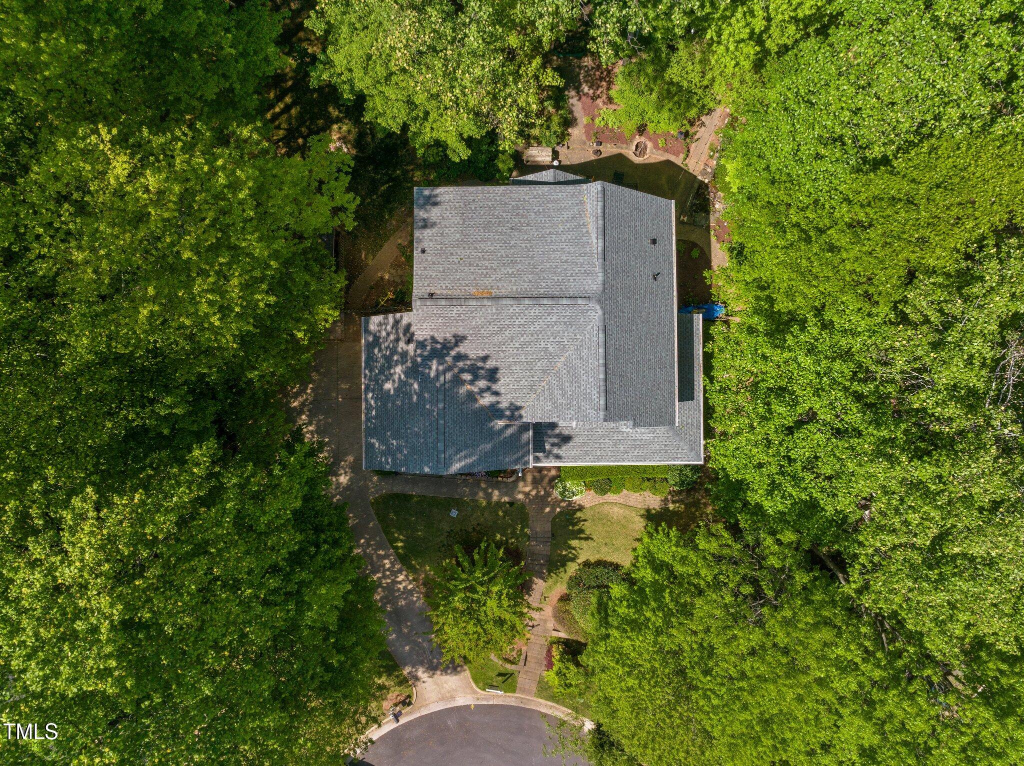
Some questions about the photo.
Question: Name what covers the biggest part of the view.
trees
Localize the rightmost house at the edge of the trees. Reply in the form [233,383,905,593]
[359,169,706,476]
